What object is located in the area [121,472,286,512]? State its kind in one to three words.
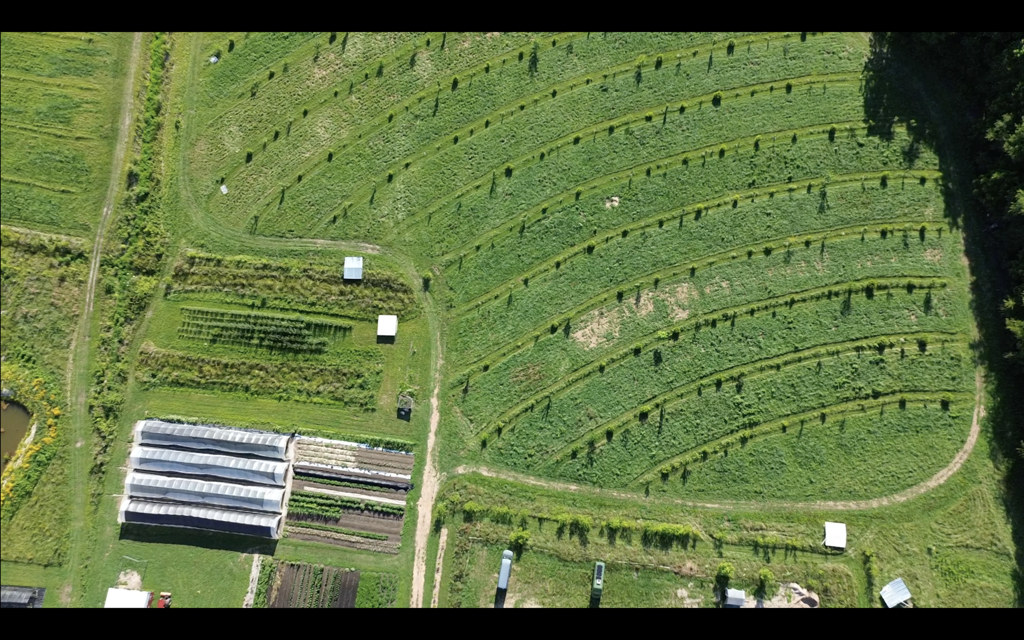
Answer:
greenhouse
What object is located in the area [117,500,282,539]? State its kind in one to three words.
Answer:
greenhouse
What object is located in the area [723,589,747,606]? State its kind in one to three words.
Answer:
shed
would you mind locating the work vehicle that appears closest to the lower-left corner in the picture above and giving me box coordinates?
[158,590,172,608]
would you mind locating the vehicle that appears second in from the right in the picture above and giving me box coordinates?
[498,549,513,590]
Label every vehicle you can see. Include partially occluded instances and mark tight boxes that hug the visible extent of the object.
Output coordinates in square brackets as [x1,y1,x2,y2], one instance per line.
[589,562,605,600]
[158,590,172,608]
[498,549,513,590]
